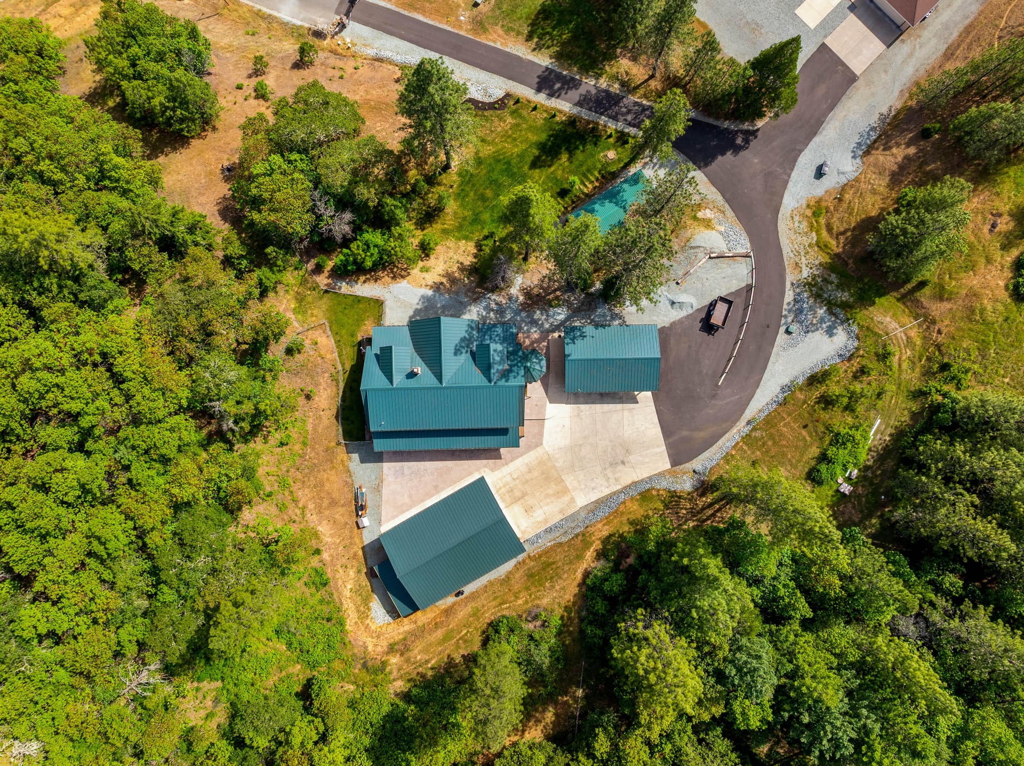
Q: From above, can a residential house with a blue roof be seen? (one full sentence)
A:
Yes, a residential house with a blue roof is visible in the scene.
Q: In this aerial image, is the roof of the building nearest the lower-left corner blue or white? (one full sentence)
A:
From above, the roof of the building nearest the lower-left corner appears blue.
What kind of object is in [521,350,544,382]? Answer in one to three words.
gazebo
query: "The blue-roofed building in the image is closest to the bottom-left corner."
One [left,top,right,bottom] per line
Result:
[373,475,526,620]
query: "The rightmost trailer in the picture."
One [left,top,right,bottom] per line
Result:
[709,294,738,339]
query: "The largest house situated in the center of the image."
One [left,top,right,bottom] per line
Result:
[354,316,528,452]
